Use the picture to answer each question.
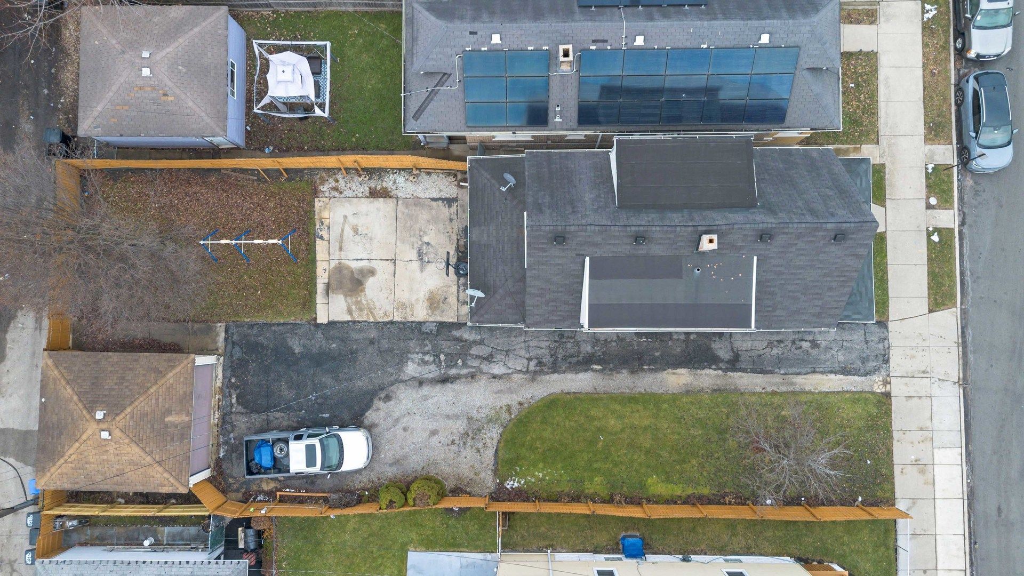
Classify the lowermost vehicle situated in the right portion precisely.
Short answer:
car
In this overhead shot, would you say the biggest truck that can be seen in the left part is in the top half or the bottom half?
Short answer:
bottom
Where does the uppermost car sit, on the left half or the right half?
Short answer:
right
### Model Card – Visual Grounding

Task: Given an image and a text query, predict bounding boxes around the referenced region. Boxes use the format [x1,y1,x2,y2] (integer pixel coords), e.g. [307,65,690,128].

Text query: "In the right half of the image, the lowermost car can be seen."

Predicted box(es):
[953,73,1018,176]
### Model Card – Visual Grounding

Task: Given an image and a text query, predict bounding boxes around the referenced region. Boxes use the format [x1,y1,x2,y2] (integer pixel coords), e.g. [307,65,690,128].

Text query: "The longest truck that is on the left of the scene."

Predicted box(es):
[246,425,377,481]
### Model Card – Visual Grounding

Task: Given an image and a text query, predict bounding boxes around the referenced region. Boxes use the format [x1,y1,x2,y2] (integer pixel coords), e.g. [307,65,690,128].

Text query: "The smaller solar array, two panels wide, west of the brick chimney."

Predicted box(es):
[464,43,548,127]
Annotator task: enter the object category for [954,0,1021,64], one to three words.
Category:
car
